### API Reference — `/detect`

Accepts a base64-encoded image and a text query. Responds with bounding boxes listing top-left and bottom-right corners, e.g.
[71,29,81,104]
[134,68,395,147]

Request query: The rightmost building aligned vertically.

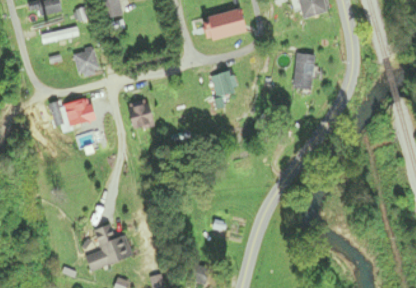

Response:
[295,53,314,94]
